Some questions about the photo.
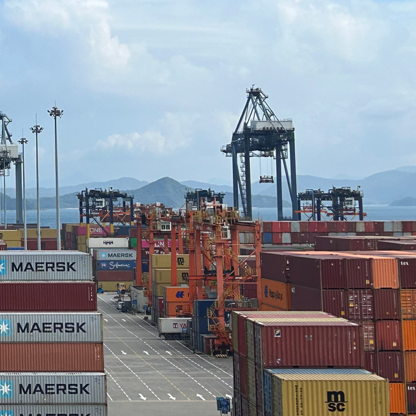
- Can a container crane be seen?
Yes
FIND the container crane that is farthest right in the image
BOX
[315,183,370,222]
